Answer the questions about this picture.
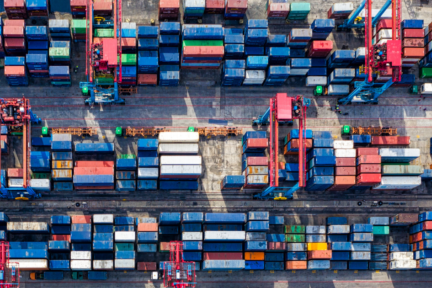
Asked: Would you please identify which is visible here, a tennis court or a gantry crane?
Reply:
gantry crane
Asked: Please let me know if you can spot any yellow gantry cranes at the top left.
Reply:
No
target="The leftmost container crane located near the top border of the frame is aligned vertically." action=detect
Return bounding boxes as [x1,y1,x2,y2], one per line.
[82,0,124,102]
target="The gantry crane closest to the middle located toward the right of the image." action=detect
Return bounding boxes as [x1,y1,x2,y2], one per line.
[250,93,306,200]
